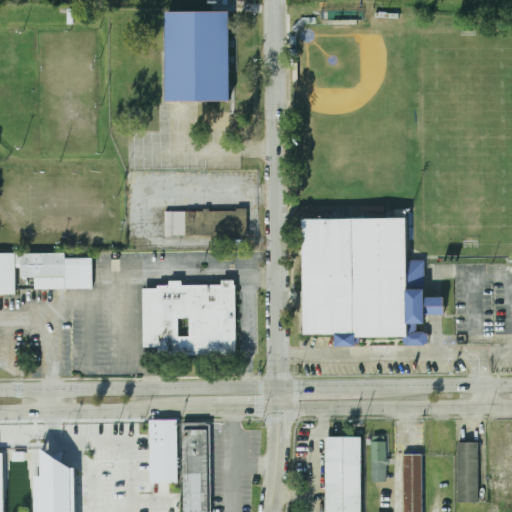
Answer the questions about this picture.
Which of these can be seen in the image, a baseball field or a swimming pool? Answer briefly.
baseball field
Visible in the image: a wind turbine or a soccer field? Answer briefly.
soccer field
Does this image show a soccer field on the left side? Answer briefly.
Yes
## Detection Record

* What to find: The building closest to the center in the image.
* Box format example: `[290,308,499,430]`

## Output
[186,208,248,235]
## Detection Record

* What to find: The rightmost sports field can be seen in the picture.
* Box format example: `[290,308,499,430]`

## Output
[424,44,512,248]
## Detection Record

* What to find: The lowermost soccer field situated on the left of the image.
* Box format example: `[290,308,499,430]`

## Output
[2,166,120,240]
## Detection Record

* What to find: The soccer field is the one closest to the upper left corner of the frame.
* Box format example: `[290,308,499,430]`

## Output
[40,26,106,153]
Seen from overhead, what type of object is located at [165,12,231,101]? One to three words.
building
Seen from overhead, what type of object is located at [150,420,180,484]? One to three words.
building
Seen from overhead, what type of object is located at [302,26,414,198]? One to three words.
baseball field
